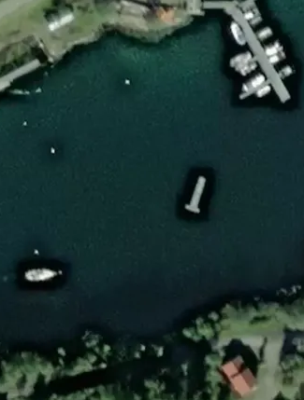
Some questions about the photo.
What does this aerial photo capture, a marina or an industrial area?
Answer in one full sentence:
It's a marina.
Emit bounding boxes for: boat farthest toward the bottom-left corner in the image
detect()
[24,269,58,281]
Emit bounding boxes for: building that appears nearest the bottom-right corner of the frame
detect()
[221,356,261,397]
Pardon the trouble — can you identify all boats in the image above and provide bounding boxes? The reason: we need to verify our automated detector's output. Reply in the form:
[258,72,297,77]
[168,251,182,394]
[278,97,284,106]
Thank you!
[232,23,246,46]
[24,269,58,281]
[258,28,272,39]
[257,85,271,96]
[244,74,266,90]
[250,17,262,25]
[265,44,281,57]
[242,63,256,73]
[244,12,254,21]
[231,49,250,63]
[234,58,250,70]
[279,68,292,77]
[268,54,283,64]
